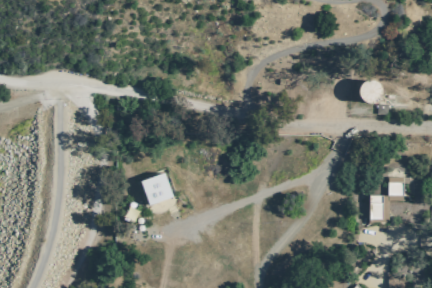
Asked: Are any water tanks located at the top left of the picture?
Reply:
No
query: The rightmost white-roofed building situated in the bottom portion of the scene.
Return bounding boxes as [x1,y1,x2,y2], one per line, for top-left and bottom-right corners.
[370,178,406,221]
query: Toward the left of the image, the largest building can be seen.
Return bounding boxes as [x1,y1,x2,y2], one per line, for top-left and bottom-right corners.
[142,174,174,206]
